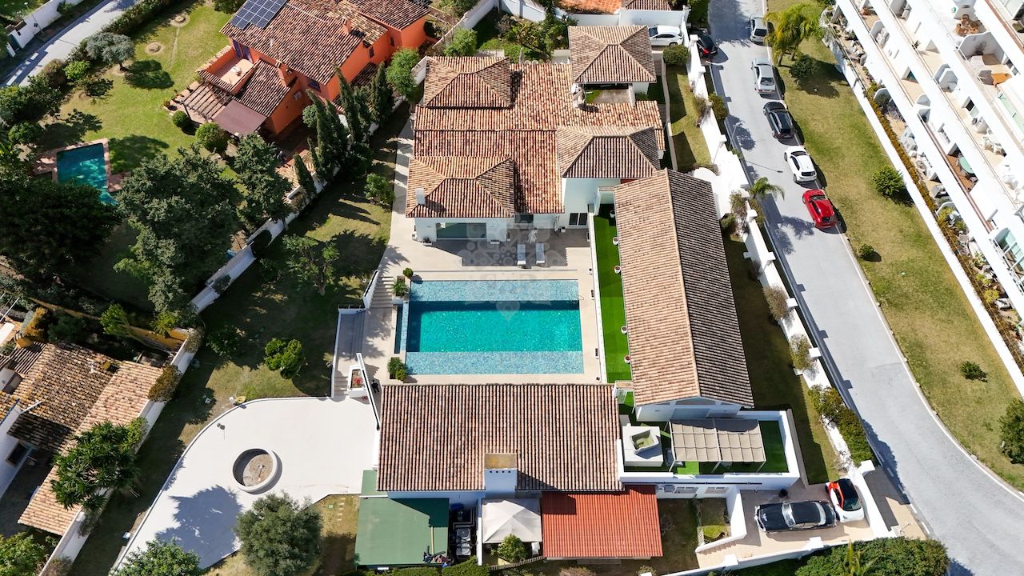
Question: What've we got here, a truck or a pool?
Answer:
pool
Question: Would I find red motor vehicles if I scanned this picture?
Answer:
Yes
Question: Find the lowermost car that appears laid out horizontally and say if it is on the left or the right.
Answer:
right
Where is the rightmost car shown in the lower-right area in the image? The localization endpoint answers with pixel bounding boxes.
[829,478,869,525]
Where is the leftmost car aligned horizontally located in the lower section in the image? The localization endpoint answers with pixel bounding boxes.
[757,495,842,532]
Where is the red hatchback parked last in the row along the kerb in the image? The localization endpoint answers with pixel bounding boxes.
[805,186,844,228]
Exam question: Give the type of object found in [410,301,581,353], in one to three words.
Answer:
swimming pool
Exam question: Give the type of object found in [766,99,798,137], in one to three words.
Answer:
car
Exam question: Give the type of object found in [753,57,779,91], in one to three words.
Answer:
car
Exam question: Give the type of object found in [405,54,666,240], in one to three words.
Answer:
house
